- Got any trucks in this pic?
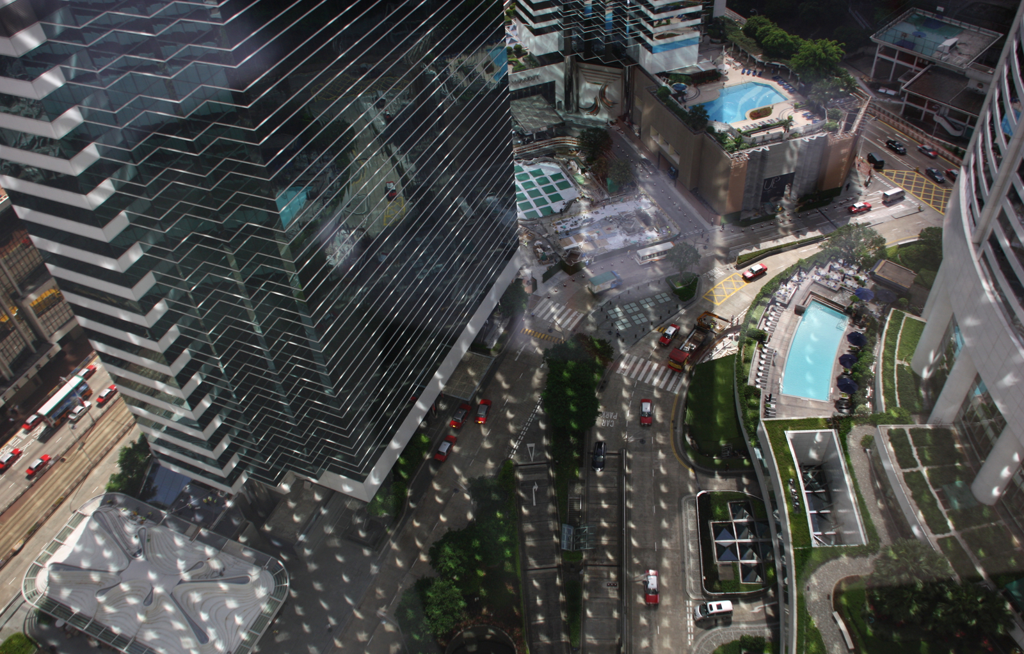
Yes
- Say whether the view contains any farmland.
No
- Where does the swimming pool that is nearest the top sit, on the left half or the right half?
right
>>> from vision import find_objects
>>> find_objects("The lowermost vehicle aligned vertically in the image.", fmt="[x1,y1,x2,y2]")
[644,569,661,607]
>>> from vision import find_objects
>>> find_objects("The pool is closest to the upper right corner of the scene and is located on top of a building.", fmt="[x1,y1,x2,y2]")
[688,81,789,122]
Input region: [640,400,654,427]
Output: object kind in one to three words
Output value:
car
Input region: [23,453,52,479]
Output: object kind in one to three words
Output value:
car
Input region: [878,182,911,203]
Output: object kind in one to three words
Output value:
vehicle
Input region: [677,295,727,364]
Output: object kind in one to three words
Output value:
truck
